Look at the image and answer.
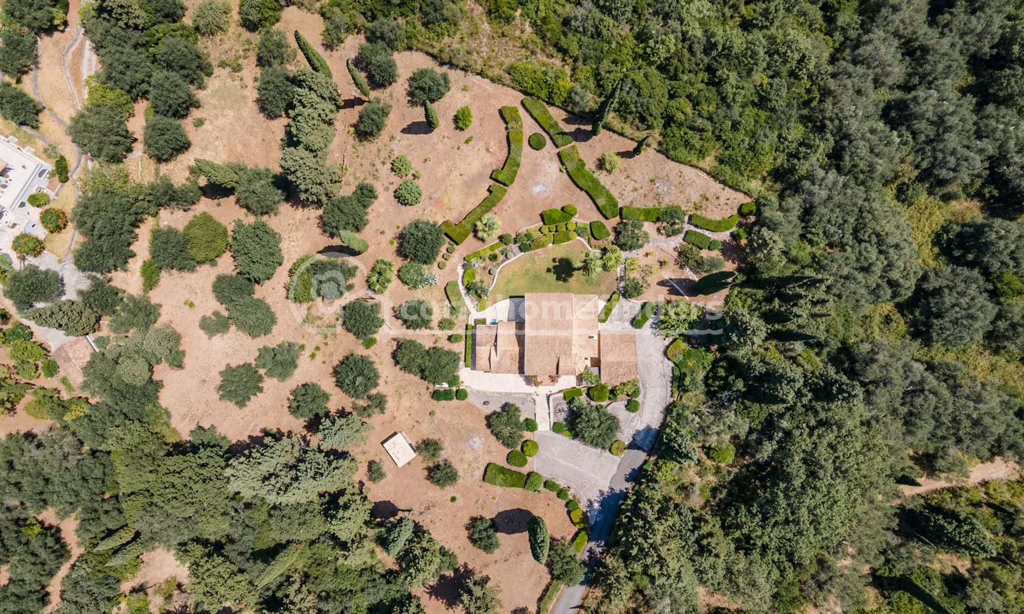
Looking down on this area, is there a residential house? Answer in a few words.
Yes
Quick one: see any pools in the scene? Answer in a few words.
No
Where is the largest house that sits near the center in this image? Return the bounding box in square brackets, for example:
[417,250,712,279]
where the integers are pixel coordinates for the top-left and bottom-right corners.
[476,293,600,386]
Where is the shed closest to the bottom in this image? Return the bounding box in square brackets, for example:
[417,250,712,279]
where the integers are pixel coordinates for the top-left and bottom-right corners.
[383,431,418,467]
